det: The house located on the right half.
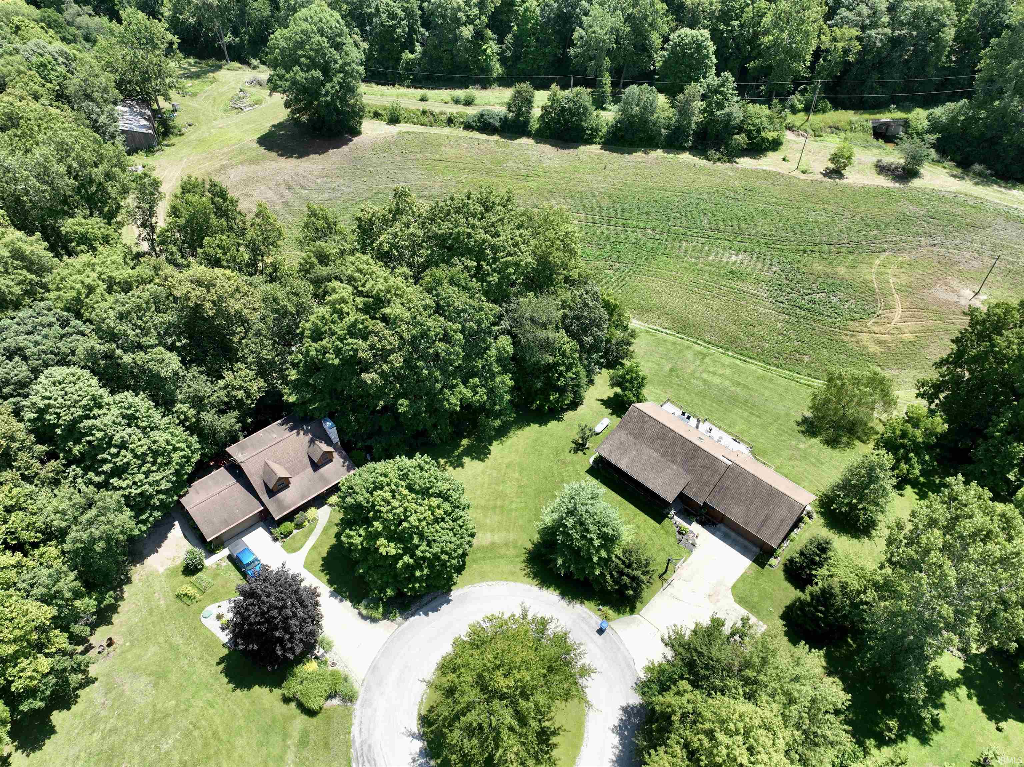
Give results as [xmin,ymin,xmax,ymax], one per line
[595,402,817,554]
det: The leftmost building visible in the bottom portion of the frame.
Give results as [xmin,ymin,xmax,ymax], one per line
[179,405,357,546]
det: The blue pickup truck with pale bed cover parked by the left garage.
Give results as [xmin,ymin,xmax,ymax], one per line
[227,538,263,582]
